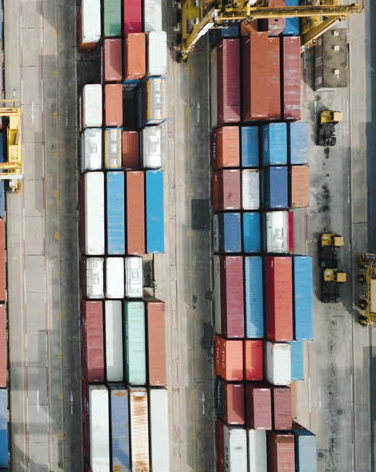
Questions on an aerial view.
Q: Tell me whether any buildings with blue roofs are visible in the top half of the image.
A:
No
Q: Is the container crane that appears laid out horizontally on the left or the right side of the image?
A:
right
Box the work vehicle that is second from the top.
[318,231,345,267]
